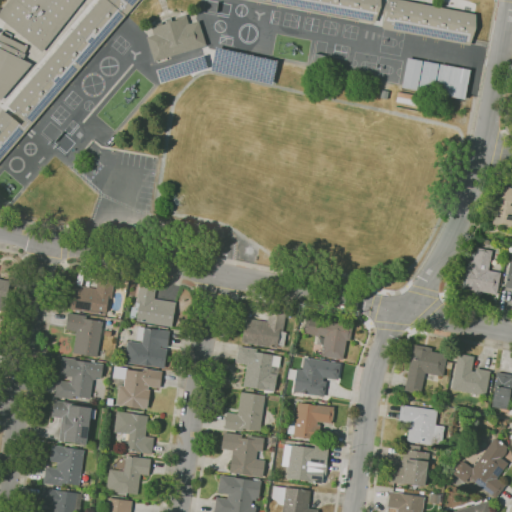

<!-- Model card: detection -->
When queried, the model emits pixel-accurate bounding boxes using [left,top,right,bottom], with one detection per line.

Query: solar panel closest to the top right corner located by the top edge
[394,22,469,42]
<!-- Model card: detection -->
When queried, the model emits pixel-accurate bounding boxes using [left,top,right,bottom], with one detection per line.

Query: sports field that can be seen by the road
[156,69,464,291]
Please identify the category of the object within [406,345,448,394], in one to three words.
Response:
house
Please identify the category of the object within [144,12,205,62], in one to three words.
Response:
building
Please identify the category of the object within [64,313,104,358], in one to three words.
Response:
house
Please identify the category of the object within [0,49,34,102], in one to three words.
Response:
building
